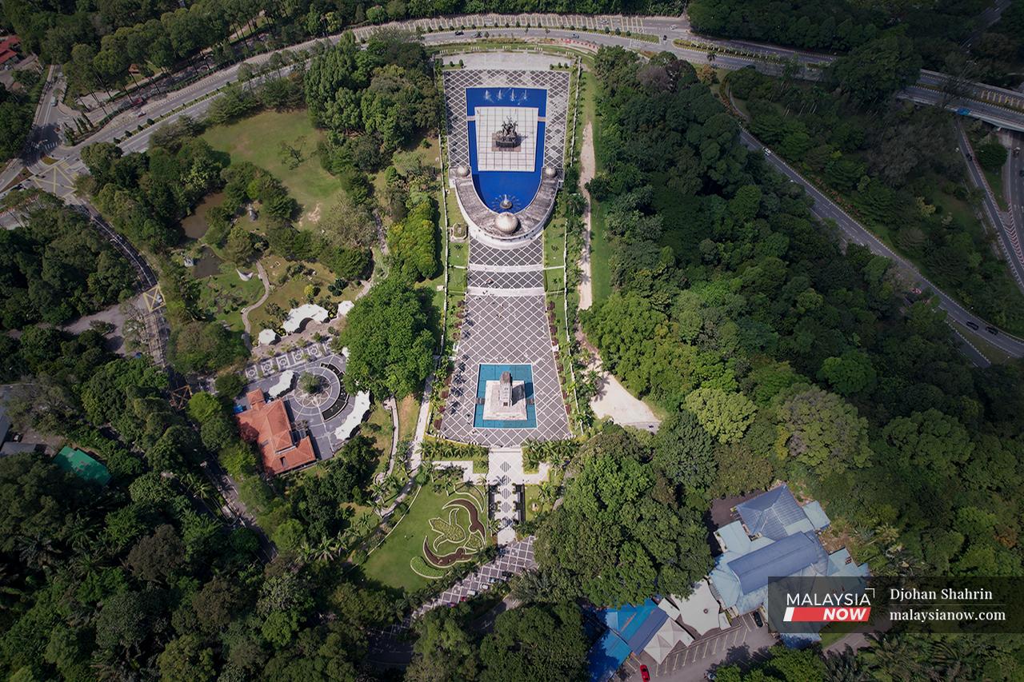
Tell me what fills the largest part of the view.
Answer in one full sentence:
For the most part, this view shows trees.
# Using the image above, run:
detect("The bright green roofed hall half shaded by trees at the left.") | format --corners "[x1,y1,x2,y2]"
[57,446,117,487]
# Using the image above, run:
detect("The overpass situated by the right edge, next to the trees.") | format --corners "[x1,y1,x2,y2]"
[897,71,1024,139]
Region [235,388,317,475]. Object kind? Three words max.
building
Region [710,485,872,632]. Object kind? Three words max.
building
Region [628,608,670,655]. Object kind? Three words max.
shed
